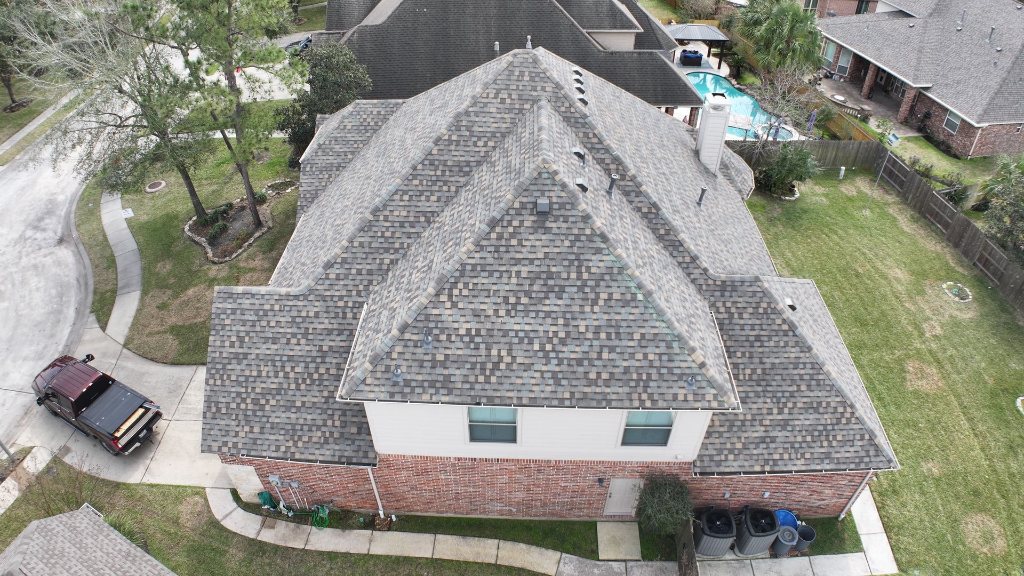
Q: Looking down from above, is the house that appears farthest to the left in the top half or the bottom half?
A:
bottom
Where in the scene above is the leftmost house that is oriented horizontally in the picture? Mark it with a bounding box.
[0,501,177,576]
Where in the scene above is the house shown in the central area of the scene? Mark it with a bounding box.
[198,43,910,537]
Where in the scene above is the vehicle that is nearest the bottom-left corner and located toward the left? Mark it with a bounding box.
[36,357,170,460]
